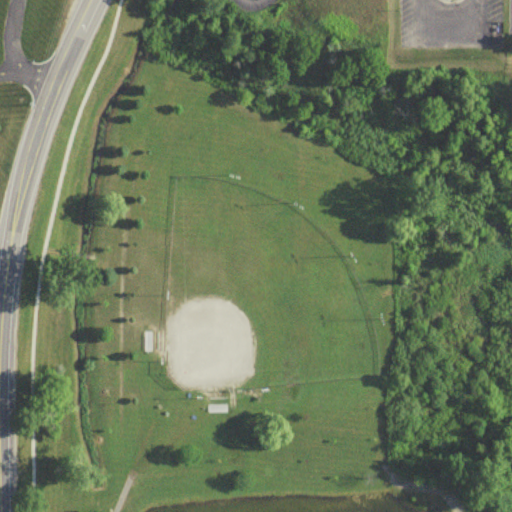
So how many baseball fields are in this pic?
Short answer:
one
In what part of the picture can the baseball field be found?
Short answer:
center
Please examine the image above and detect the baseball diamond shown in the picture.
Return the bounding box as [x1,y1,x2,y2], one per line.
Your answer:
[164,178,378,394]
